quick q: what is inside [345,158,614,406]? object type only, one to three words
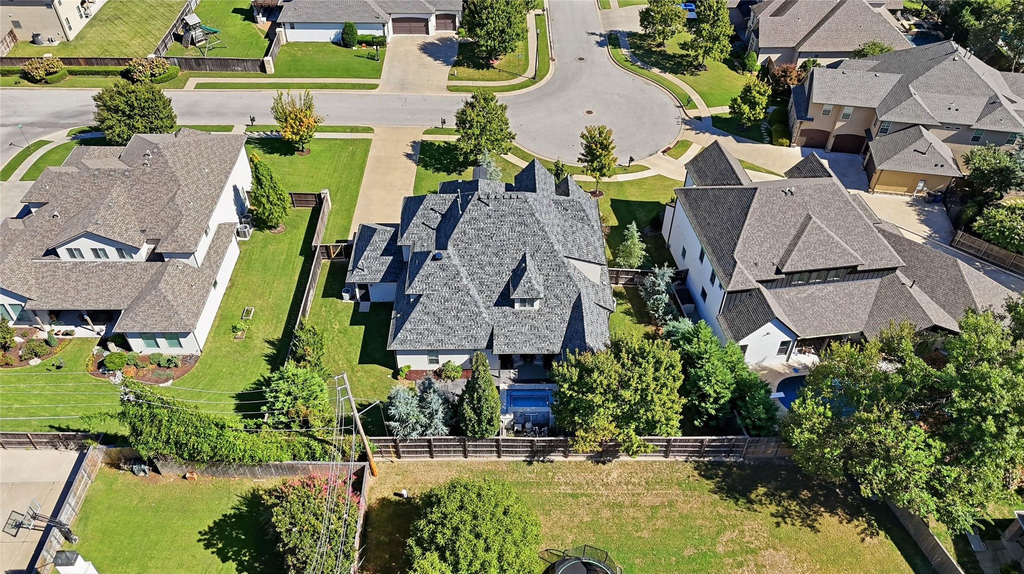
house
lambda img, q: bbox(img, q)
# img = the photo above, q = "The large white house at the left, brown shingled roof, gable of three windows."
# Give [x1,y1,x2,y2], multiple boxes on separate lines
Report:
[0,116,254,354]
